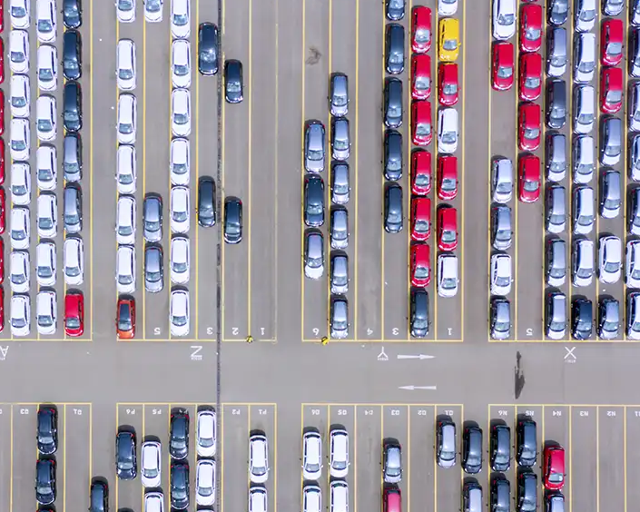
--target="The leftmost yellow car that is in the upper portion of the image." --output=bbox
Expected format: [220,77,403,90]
[437,17,461,62]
